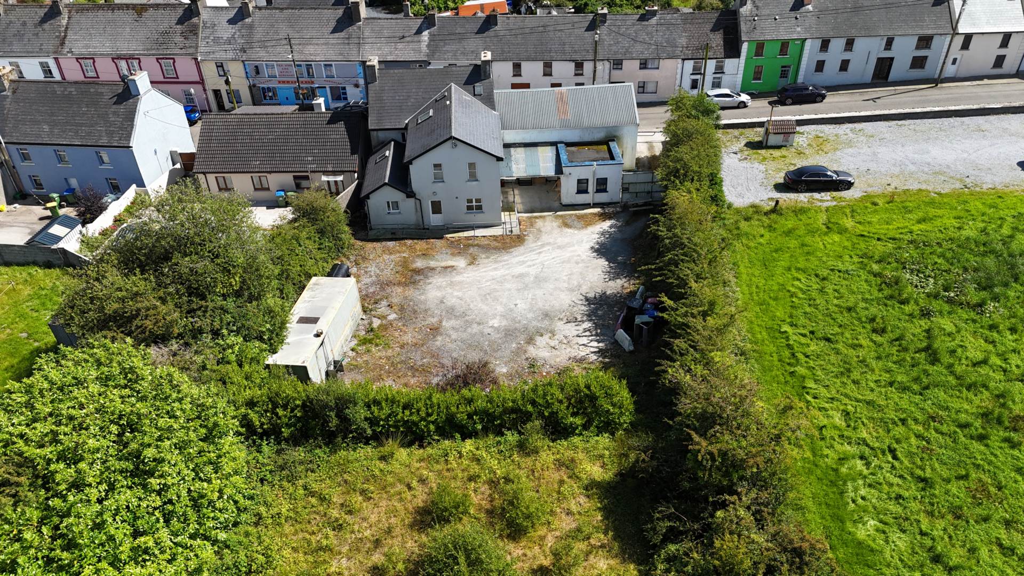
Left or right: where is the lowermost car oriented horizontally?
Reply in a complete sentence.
The lowermost car oriented horizontally is on the right side of the image.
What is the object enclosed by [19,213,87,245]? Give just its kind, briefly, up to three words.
shed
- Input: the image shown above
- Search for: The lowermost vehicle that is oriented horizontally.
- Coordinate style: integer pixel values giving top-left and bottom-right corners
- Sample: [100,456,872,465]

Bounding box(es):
[786,164,857,192]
